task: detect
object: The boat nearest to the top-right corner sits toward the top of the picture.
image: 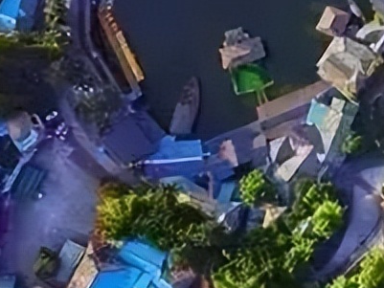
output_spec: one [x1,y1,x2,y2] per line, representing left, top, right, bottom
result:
[348,0,365,16]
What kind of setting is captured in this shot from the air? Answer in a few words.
residential area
